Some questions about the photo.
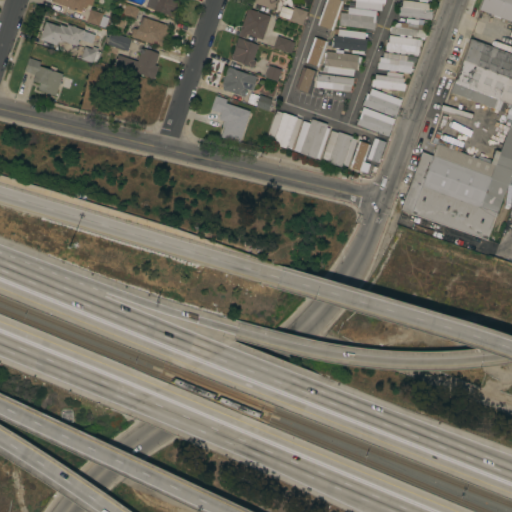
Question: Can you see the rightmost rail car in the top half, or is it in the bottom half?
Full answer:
The rightmost rail car sits in the bottom half of the picture.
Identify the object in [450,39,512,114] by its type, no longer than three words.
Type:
building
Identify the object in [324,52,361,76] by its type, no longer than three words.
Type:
house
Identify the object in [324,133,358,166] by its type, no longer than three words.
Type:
house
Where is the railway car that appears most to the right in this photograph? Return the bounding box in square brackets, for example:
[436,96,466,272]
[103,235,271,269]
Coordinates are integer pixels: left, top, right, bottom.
[218,397,264,419]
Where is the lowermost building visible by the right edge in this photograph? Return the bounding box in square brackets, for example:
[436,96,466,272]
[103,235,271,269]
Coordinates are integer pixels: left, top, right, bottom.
[403,128,512,241]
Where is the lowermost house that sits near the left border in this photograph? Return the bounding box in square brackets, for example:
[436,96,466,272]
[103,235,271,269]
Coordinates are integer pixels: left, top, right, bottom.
[24,58,64,97]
